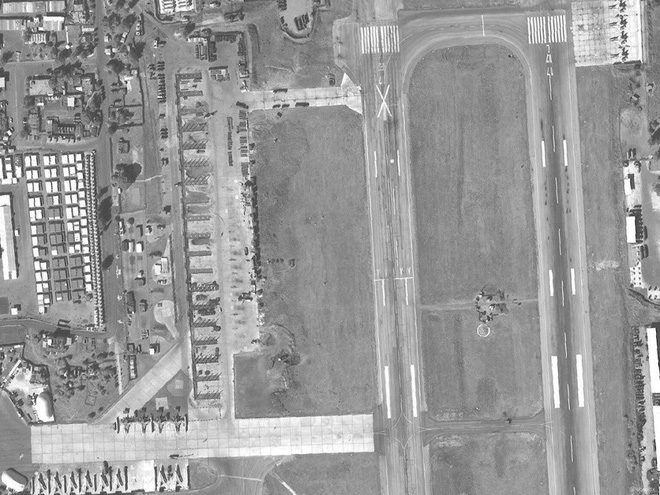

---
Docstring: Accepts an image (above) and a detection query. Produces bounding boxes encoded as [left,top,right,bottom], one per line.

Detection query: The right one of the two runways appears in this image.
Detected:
[520,0,600,495]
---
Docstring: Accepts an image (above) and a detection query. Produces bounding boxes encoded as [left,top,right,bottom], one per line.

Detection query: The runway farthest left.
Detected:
[358,0,432,495]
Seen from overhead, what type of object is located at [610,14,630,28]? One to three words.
airplane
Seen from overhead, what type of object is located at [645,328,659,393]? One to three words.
building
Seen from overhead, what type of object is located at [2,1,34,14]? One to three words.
building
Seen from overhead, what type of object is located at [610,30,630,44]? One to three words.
airplane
